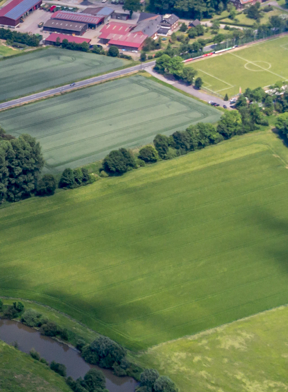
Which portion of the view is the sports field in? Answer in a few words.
top right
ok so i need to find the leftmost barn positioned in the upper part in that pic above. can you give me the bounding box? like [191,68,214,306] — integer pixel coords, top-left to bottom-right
[0,0,42,27]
